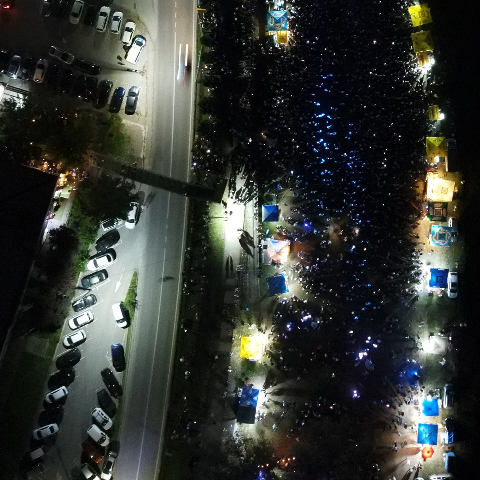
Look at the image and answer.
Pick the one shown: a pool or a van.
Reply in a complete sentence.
It is a van that can be seen here.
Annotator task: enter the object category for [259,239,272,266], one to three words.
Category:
vehicle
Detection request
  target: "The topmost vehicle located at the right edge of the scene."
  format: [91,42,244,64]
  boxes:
[445,138,460,170]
